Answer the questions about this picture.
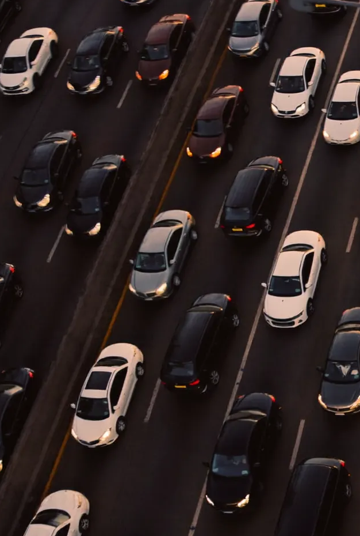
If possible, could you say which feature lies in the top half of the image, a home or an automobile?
automobile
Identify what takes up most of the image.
paved ground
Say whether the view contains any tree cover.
No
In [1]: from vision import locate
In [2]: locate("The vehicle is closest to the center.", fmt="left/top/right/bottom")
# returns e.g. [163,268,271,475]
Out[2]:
[130,212,198,301]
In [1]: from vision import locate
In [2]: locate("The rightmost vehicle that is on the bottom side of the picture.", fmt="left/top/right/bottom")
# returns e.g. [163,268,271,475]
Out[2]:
[316,310,360,415]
